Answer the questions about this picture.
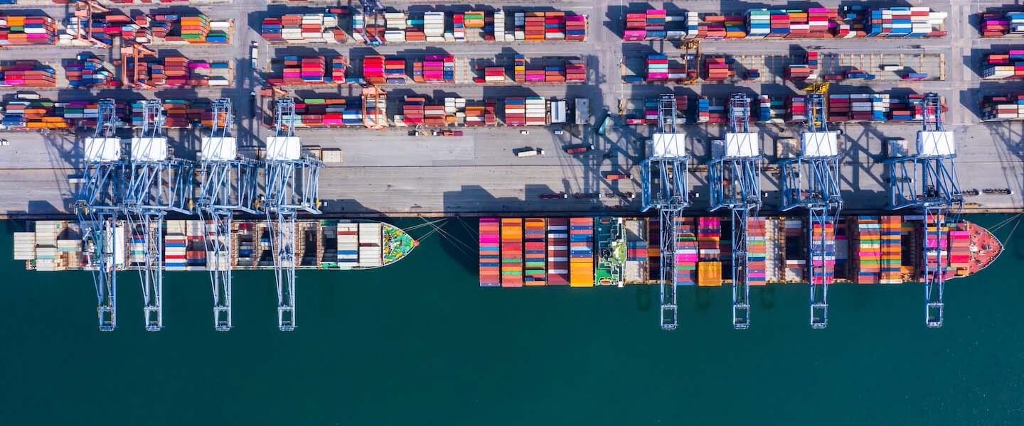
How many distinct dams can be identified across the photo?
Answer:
0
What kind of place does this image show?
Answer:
port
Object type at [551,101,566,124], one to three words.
shed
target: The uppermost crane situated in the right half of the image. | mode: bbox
[674,33,700,86]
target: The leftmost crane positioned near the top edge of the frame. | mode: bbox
[73,0,111,50]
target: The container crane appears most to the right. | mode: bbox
[873,90,967,326]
